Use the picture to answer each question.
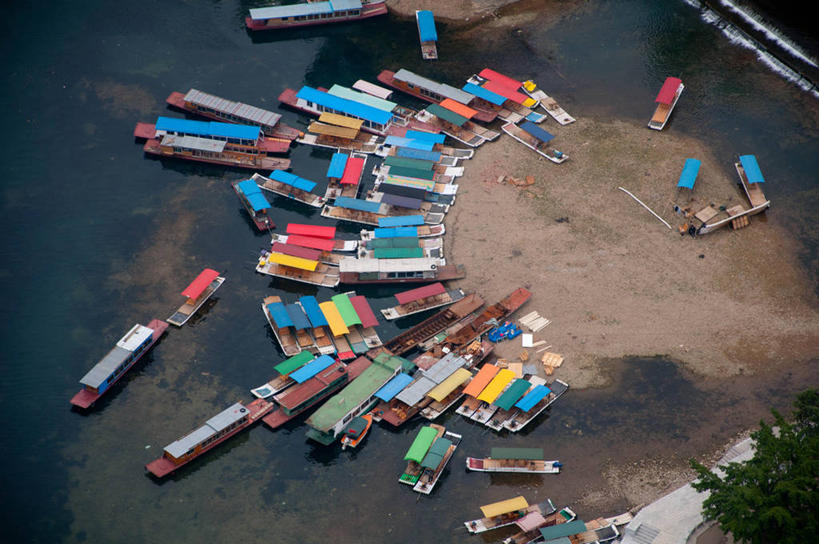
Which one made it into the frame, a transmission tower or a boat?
boat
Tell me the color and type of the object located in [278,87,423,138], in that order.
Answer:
blue boat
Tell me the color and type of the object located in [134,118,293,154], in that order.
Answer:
blue boat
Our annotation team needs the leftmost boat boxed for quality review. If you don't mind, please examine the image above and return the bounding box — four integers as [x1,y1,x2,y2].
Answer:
[71,318,169,408]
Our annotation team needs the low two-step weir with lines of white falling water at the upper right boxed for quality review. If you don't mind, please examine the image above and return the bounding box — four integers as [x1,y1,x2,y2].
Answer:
[666,0,819,107]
